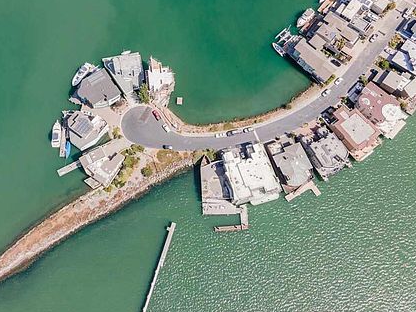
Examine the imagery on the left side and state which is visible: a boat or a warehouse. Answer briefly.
boat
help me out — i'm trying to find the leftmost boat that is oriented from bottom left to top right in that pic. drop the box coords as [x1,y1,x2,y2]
[73,62,91,85]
